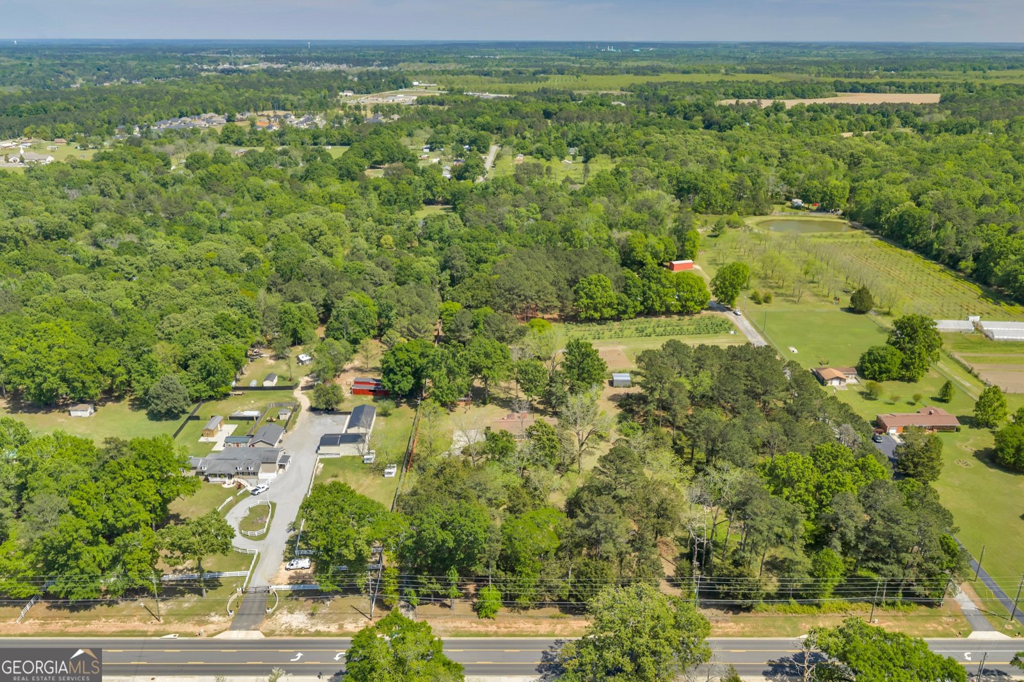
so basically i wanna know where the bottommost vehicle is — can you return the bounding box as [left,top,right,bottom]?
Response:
[285,559,310,571]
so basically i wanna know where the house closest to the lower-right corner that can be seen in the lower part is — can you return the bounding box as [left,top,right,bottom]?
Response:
[871,398,961,436]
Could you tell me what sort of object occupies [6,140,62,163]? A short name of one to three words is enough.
building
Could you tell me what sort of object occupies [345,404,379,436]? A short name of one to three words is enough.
building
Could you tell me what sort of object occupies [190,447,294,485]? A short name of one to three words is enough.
house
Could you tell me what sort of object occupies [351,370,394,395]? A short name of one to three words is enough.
barn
